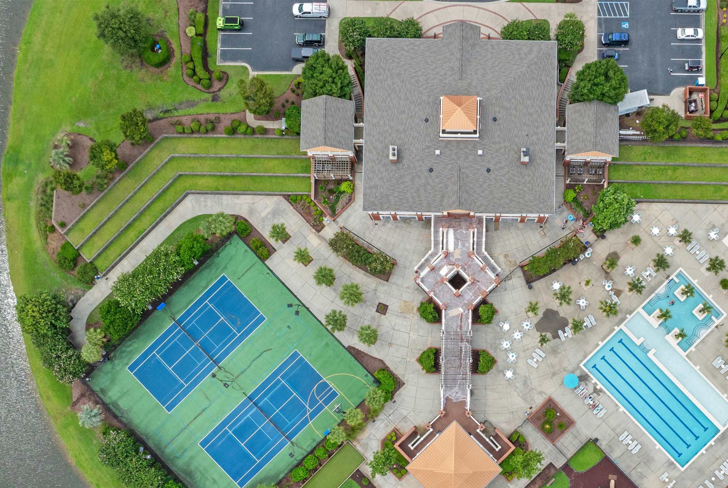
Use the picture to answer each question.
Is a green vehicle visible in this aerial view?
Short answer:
Yes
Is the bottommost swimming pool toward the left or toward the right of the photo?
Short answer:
right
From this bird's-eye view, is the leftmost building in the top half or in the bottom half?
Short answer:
top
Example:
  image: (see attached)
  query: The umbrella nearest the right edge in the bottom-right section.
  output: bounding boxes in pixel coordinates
[564,374,578,389]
